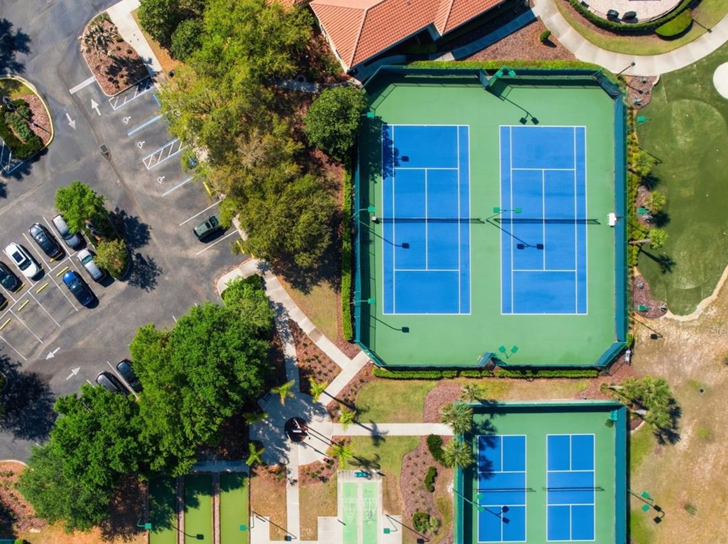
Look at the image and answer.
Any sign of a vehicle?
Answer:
Yes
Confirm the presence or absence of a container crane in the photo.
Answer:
No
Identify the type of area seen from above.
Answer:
sports ground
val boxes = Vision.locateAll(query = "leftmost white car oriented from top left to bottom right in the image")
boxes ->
[7,242,40,280]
